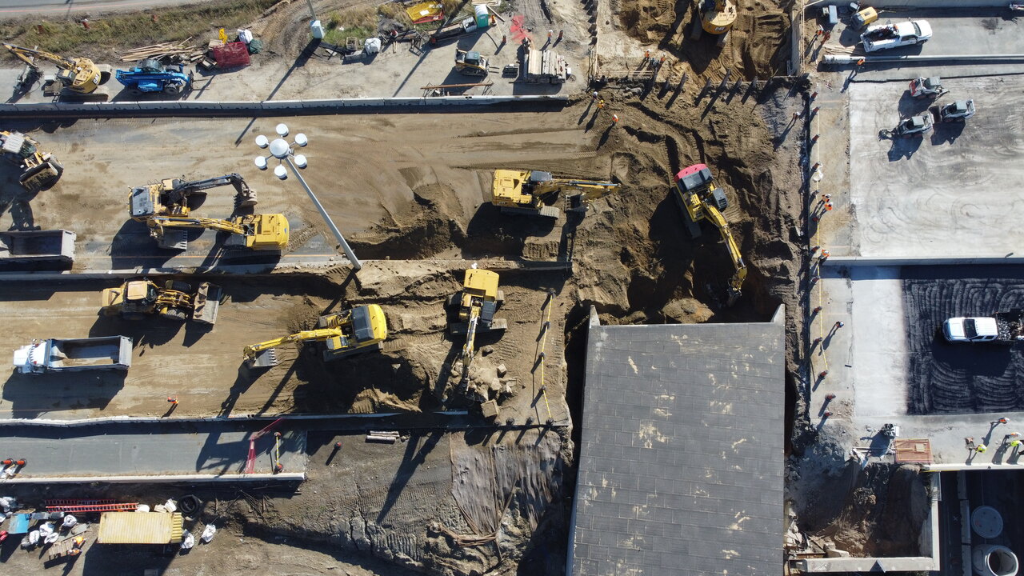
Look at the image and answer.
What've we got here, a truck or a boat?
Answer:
truck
